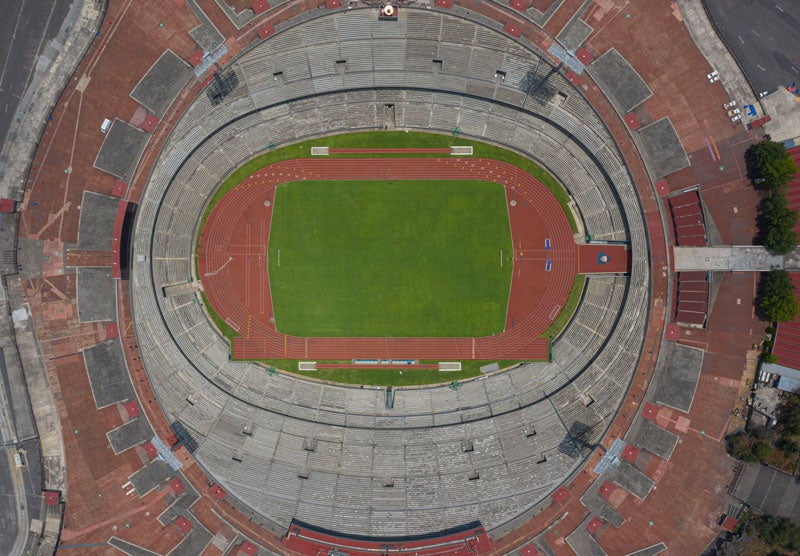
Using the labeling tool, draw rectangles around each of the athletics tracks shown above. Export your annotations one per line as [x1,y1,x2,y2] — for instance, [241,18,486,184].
[200,159,581,359]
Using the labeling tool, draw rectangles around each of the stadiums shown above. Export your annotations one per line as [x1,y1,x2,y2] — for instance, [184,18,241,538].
[112,6,652,556]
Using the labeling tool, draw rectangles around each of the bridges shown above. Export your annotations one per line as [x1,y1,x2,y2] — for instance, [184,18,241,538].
[673,246,800,272]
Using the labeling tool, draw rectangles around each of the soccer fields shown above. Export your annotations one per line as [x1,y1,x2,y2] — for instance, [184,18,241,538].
[267,180,513,337]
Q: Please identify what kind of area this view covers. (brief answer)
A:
sports ground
